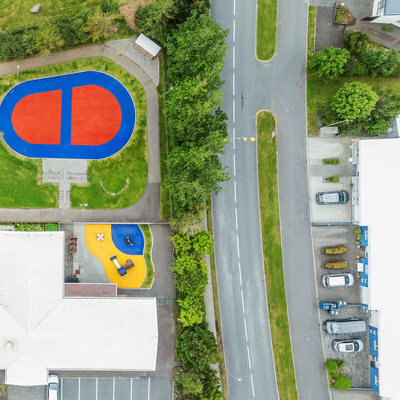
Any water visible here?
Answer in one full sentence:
No, there is no water in the image.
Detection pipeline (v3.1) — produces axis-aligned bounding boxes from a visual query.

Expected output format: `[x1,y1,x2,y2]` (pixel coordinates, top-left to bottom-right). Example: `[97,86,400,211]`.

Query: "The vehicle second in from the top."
[320,272,353,288]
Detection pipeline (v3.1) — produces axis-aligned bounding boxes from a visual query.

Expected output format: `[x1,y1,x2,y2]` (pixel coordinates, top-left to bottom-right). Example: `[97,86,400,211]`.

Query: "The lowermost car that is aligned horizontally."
[331,338,364,354]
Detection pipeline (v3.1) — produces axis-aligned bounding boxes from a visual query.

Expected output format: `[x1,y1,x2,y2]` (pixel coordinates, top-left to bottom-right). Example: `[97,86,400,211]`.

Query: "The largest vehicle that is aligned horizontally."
[323,317,371,335]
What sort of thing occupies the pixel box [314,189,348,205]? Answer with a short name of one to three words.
car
